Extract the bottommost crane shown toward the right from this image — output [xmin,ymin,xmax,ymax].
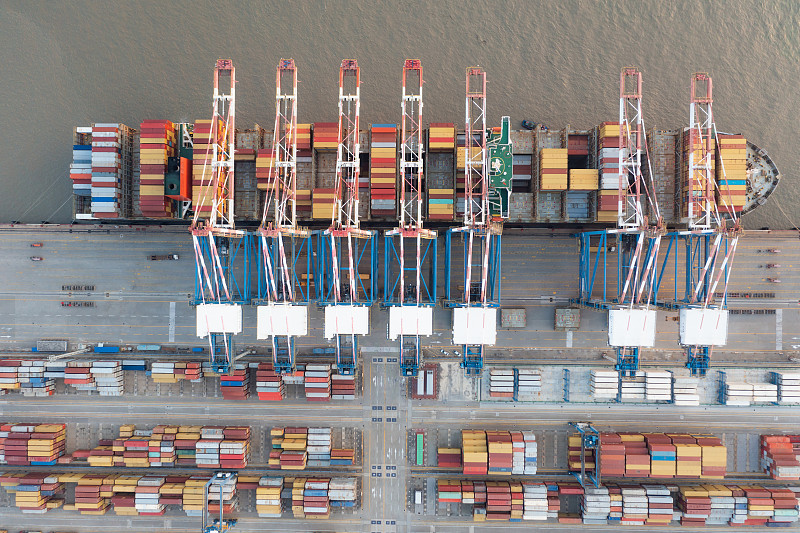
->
[563,421,602,490]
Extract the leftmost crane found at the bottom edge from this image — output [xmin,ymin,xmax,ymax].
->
[202,471,241,533]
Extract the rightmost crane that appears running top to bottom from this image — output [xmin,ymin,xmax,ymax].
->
[641,66,743,389]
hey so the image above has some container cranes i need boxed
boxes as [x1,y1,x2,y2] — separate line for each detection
[202,471,241,533]
[188,59,273,380]
[252,59,331,381]
[563,421,602,490]
[641,66,743,389]
[377,59,443,382]
[438,66,505,386]
[315,59,385,381]
[572,66,666,388]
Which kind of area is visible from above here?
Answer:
port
